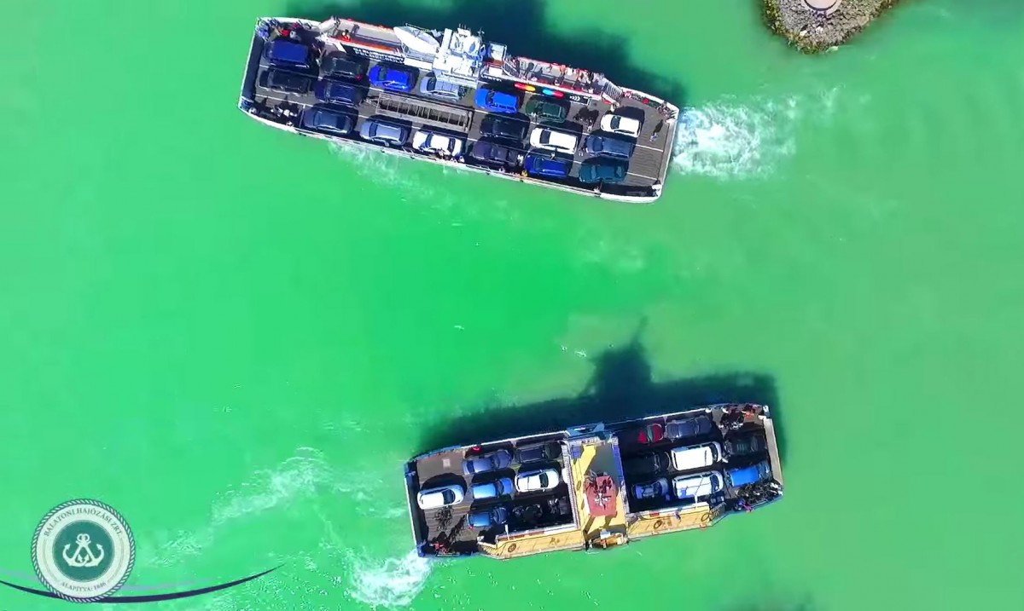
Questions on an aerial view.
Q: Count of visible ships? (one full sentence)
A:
There are 2 ships in the image.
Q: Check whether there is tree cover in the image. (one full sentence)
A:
No, the scene doesn't show any tree cover.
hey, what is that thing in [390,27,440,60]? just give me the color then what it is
white boat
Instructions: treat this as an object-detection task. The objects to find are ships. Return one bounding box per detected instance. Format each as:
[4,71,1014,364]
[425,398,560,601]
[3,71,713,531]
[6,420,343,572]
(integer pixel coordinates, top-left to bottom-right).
[242,15,680,202]
[408,402,784,566]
